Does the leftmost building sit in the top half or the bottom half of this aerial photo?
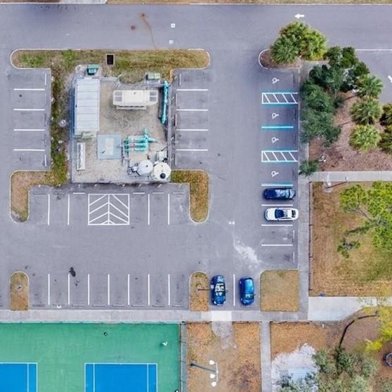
top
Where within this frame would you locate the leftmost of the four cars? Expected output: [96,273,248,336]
[211,276,226,306]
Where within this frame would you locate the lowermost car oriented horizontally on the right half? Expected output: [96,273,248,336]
[264,206,298,222]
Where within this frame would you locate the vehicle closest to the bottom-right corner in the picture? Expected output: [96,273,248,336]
[239,278,255,305]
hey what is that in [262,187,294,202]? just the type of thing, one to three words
car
